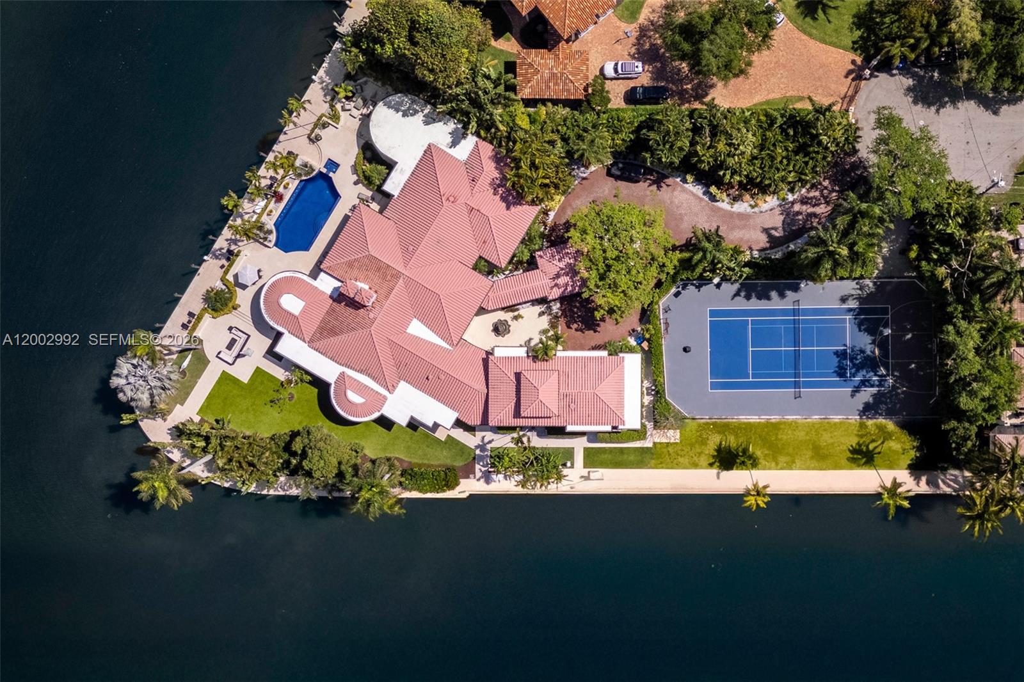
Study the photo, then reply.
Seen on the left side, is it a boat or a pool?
pool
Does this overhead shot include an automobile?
Yes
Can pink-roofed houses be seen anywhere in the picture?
Yes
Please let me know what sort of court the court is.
tennis court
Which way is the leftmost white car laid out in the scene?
horizontally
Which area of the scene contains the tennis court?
right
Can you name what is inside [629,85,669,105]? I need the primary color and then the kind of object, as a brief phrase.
black car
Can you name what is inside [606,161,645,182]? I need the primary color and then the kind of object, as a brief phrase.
black car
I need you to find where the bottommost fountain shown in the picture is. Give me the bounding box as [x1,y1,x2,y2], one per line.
[491,318,511,337]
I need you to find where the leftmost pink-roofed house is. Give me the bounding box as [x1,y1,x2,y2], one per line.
[260,94,641,432]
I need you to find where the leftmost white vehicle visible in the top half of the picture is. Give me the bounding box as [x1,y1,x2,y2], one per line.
[602,60,641,80]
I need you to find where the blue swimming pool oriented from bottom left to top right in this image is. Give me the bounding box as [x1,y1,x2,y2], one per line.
[271,155,344,255]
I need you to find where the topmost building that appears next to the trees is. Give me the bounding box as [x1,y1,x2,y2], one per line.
[512,0,617,105]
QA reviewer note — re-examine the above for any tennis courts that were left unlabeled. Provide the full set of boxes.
[659,279,939,418]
